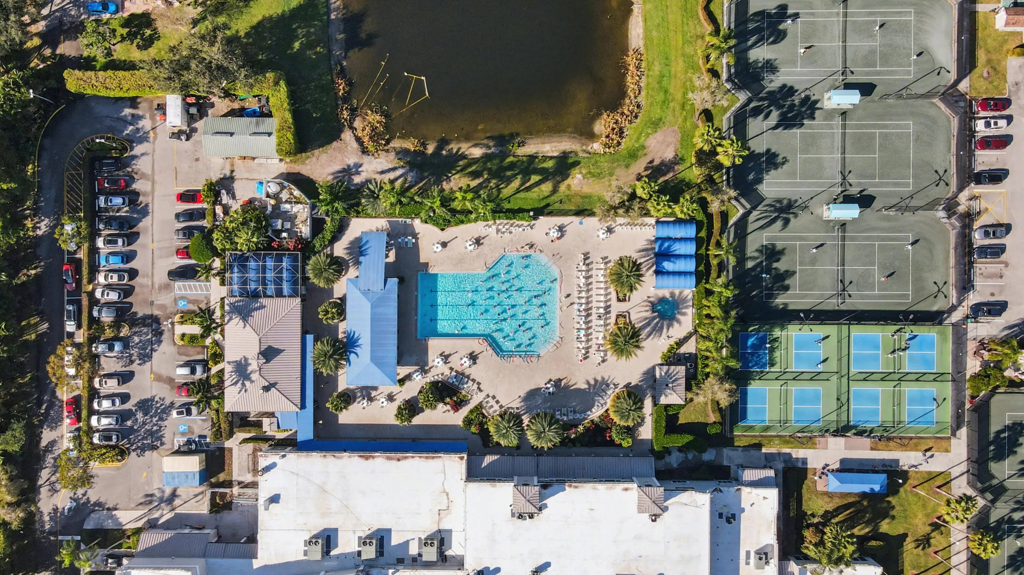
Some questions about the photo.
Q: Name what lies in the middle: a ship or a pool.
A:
pool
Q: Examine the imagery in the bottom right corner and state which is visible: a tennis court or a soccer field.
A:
tennis court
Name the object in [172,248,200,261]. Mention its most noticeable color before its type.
red vehicle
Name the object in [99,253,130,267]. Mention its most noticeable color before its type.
blue car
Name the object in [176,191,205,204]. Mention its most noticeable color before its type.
red vehicle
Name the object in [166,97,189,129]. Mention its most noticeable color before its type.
white trailer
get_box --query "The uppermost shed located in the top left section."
[202,116,279,158]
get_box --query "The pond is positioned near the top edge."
[346,0,629,139]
